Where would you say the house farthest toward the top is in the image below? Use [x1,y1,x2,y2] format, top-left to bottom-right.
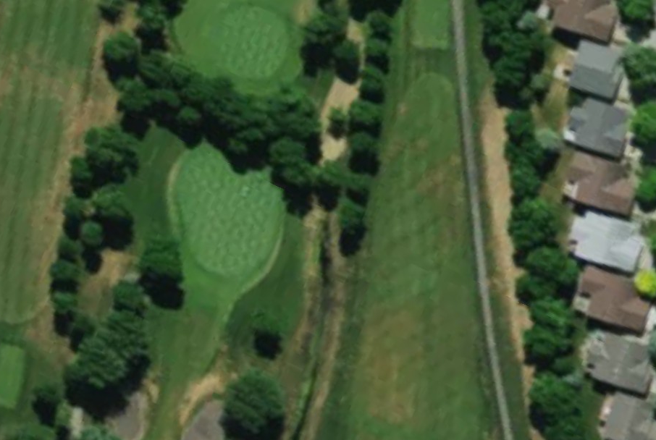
[544,0,620,48]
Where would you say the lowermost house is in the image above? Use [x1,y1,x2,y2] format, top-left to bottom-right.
[603,394,656,440]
